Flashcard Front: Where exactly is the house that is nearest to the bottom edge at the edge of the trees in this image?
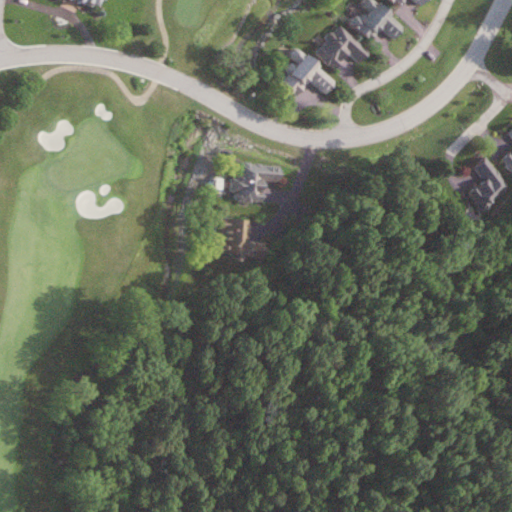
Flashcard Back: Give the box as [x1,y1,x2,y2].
[224,216,266,257]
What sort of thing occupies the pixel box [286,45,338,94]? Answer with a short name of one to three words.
house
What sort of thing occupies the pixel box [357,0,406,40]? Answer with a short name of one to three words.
house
